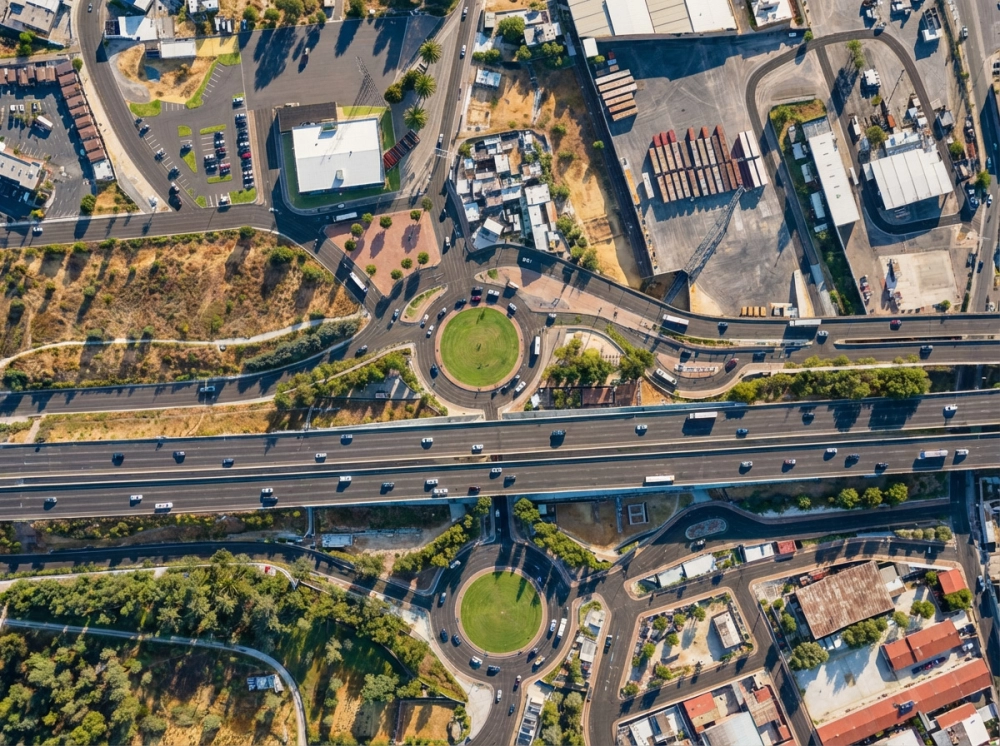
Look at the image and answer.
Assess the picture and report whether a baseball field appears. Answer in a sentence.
No, there is no baseball field in the image.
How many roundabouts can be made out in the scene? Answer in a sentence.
The number of roundabouts here is 2.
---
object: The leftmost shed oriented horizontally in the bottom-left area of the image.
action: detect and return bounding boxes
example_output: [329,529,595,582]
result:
[244,674,277,689]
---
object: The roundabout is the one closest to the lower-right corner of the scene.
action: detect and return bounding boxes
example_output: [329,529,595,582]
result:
[433,543,570,682]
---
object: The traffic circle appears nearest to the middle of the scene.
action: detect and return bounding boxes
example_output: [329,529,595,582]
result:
[414,281,546,413]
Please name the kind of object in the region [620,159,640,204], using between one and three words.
vehicle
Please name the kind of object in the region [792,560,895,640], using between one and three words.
building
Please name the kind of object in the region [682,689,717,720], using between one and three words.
house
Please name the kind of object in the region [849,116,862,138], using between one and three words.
vehicle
